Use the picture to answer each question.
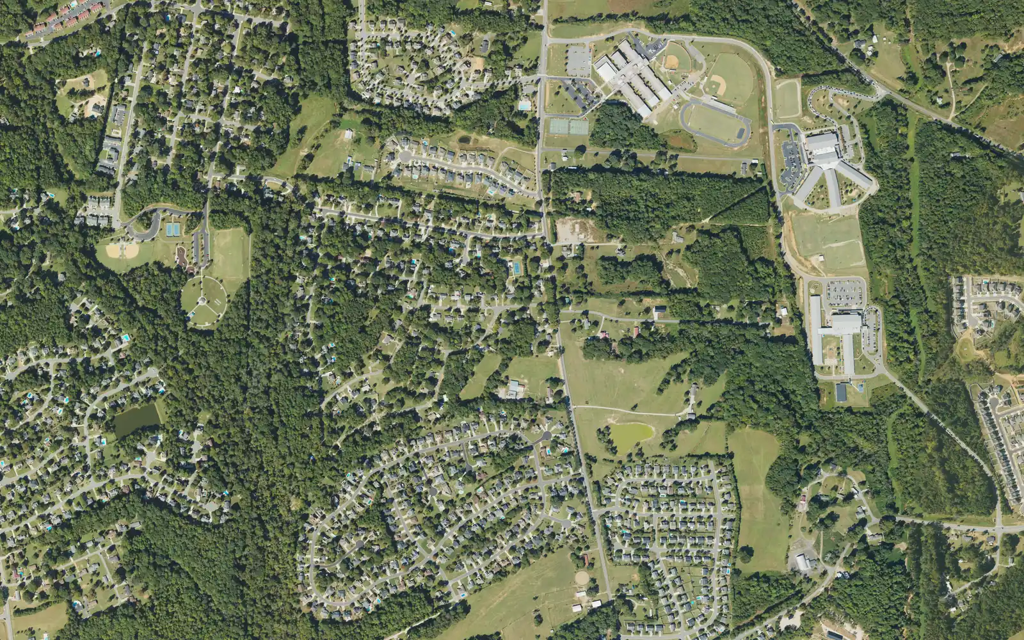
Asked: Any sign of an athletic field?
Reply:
Yes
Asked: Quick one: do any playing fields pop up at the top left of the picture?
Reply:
No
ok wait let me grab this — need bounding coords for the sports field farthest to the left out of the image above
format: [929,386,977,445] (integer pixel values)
[683,104,742,143]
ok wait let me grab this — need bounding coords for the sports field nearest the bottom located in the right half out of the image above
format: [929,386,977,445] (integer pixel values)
[791,214,865,271]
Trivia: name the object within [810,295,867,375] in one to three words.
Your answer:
building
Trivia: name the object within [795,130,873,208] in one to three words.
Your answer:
building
